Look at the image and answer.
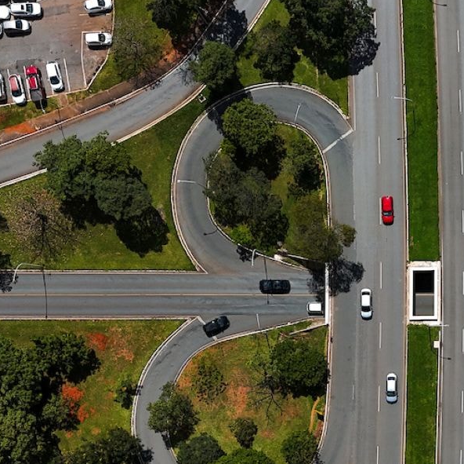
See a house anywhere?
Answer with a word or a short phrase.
No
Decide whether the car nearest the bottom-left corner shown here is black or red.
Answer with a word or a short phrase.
black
